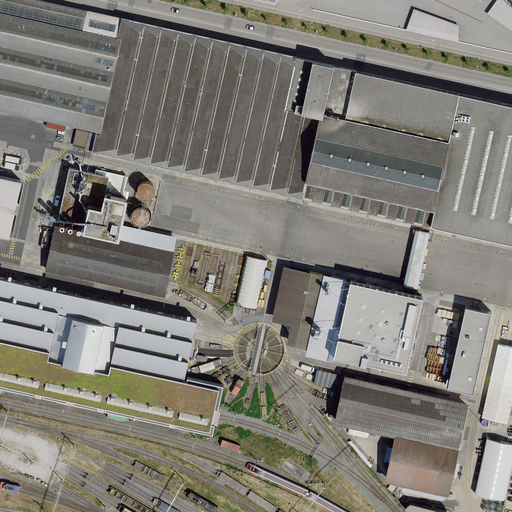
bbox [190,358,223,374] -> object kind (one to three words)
vehicle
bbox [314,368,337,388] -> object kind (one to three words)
shed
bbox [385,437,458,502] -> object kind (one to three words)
building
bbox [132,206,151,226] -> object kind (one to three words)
silo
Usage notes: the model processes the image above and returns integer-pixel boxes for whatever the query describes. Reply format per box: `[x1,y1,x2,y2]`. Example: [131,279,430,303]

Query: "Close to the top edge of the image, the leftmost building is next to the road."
[0,0,124,136]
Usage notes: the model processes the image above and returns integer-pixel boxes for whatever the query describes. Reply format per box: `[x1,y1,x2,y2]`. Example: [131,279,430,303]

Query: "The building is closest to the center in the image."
[238,255,268,309]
